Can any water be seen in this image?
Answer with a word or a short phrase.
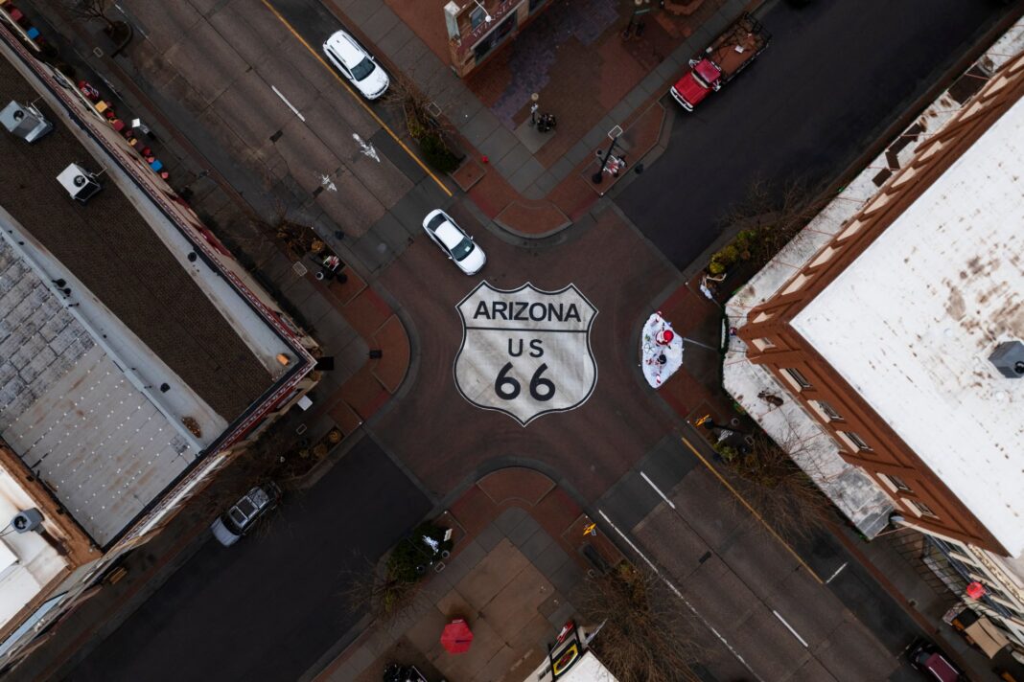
No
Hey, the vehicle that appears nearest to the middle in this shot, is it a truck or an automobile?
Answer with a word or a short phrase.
automobile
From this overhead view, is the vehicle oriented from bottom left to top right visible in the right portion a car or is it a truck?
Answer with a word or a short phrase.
truck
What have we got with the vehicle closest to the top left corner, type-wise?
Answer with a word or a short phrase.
car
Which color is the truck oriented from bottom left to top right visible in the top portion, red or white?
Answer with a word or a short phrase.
red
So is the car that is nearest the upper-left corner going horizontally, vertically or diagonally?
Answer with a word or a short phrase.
diagonally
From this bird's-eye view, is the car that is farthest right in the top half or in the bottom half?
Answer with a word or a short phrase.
bottom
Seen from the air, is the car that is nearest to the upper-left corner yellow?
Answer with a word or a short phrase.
No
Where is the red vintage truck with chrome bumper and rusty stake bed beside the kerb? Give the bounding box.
[668,6,775,115]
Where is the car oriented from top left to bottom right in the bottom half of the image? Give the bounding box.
[892,631,964,682]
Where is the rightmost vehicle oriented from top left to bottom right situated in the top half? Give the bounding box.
[423,207,486,276]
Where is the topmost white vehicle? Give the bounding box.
[323,29,391,102]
